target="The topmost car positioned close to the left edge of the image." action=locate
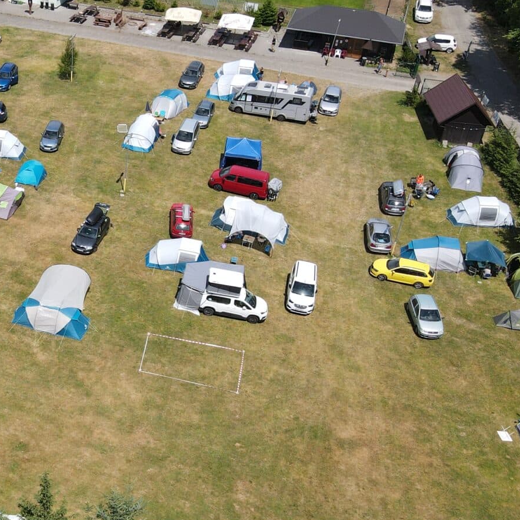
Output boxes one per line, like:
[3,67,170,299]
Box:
[0,63,23,89]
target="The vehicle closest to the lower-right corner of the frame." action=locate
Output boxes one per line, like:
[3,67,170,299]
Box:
[405,286,449,335]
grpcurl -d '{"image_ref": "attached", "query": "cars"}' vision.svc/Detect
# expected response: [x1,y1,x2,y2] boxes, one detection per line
[72,196,111,251]
[356,215,394,250]
[179,61,204,86]
[405,286,449,335]
[166,200,194,235]
[319,85,344,113]
[40,118,68,148]
[171,116,196,151]
[374,176,408,213]
[199,269,270,325]
[284,254,320,311]
[0,99,9,122]
[366,254,442,289]
[417,33,459,53]
[193,96,220,125]
[0,63,23,89]
[409,0,434,20]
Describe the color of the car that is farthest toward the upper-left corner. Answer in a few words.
blue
